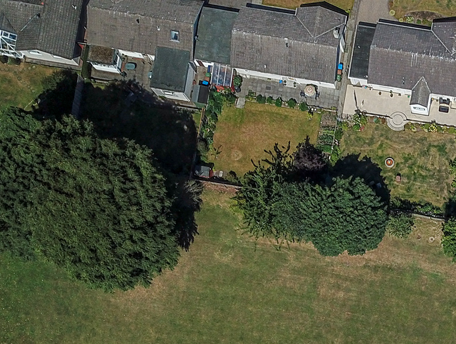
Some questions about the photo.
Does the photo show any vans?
No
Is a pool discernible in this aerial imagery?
No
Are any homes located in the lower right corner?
No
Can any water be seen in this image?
No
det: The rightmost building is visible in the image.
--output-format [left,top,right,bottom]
[367,17,456,112]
